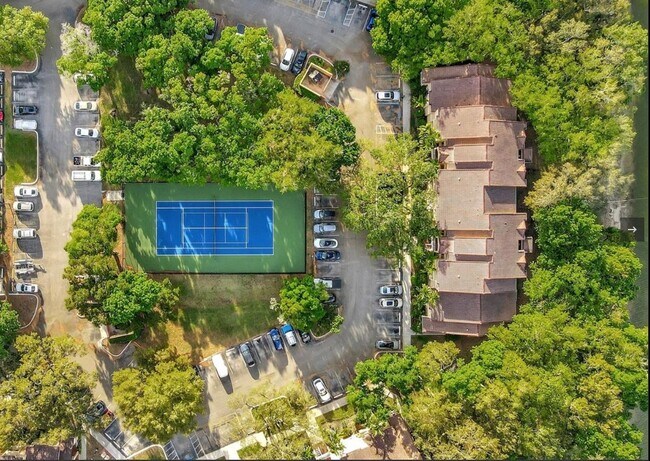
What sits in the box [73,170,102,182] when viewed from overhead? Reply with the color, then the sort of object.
white vehicle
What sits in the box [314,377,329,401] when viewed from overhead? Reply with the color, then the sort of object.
white car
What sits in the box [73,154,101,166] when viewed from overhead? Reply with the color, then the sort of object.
white vehicle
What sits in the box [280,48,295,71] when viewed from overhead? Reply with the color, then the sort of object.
white car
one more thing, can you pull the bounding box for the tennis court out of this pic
[124,183,305,274]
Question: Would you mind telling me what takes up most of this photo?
trees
